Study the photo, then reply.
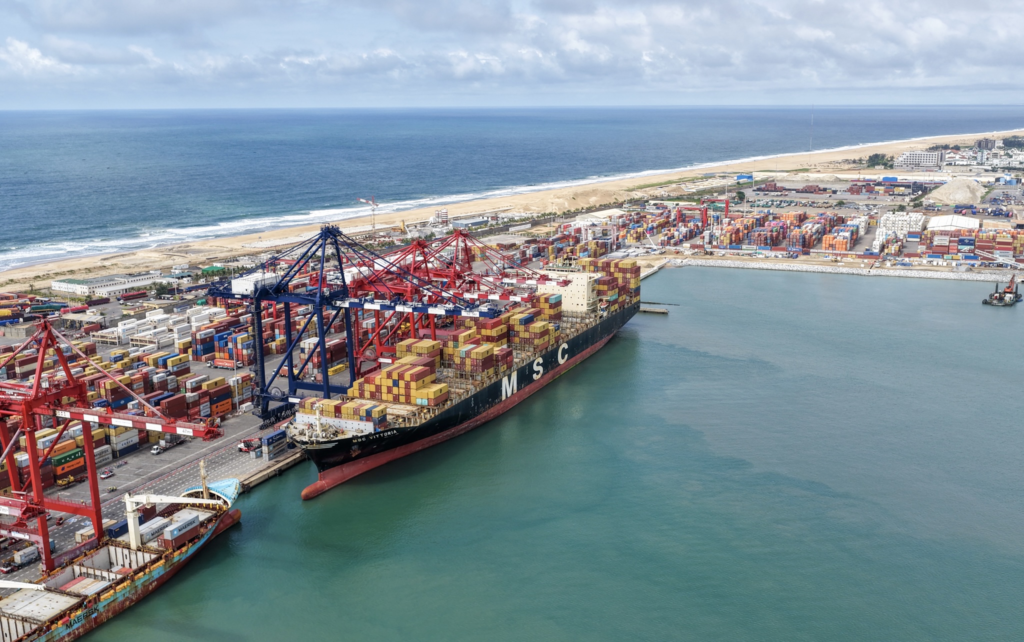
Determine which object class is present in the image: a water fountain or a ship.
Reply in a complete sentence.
The one in the frame is a ship.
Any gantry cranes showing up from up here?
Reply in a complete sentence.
Yes, the image includes a gantry crane.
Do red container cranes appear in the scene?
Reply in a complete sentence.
Yes, a red container crane can be made out from above.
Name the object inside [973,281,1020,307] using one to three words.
ship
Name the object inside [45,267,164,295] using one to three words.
building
